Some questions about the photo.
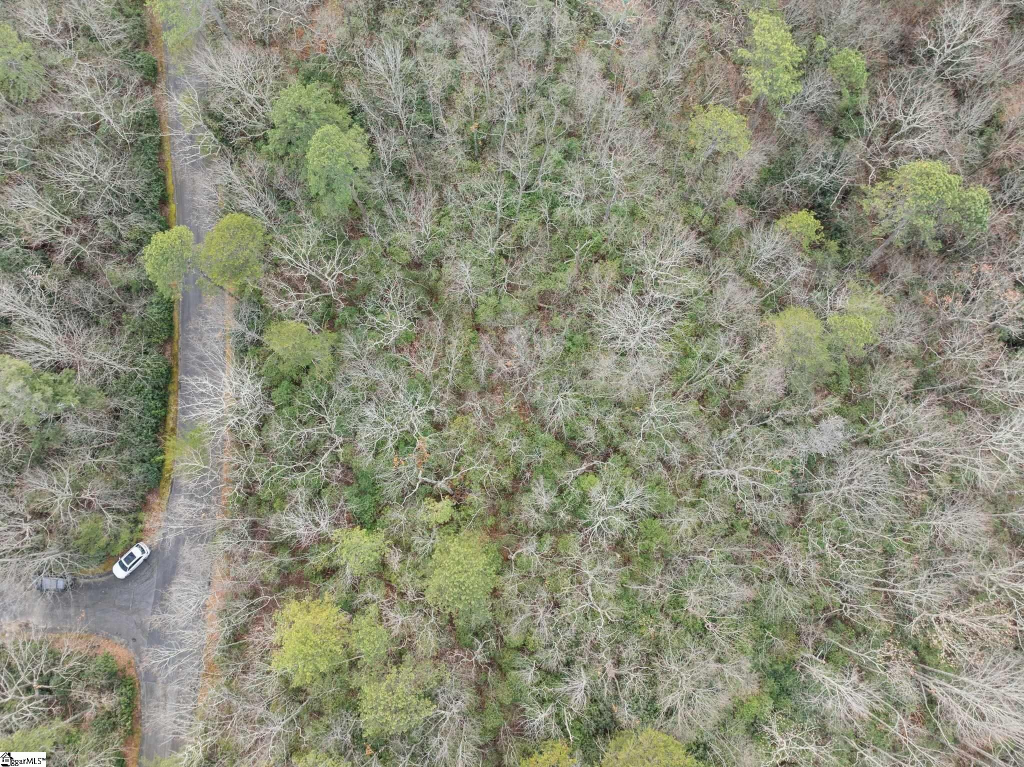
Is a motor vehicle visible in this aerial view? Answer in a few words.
Yes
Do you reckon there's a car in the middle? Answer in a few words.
No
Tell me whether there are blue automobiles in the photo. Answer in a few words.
No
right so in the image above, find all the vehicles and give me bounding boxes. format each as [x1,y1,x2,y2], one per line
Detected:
[114,543,151,577]
[35,574,74,594]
